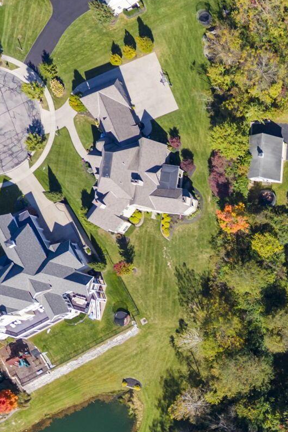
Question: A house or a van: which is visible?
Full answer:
It is a house that can be seen here.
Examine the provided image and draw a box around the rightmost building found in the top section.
[249,130,285,182]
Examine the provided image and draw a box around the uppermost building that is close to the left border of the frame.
[0,211,113,339]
